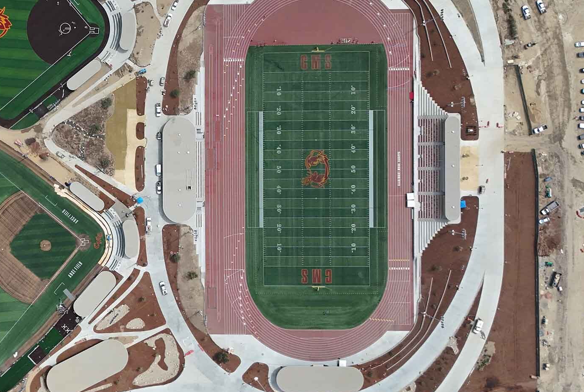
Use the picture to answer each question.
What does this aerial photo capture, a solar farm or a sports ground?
sports ground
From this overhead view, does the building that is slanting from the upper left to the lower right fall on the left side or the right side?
left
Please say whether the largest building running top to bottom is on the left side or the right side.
left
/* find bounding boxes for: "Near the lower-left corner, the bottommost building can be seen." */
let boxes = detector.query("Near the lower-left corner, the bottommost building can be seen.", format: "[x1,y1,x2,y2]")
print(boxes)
[45,340,129,392]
